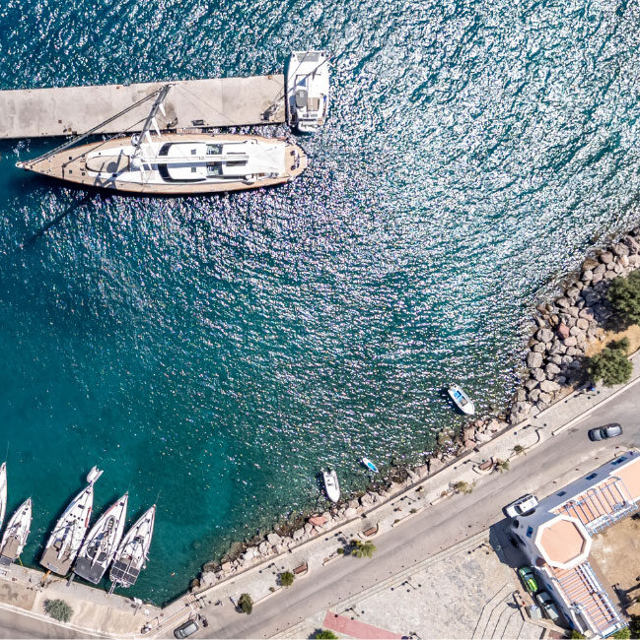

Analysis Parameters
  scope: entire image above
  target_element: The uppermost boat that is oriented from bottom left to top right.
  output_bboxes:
[87,464,103,486]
